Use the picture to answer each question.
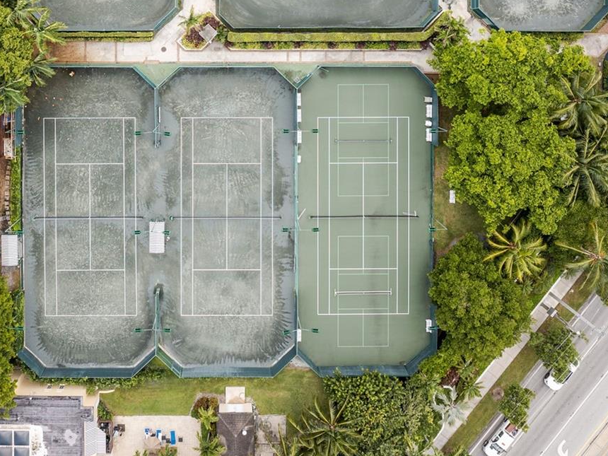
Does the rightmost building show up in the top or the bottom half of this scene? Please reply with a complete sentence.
The bottom half of the photo is where the rightmost building is.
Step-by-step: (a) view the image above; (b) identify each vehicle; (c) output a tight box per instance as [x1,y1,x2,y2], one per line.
[485,417,527,456]
[545,373,573,393]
